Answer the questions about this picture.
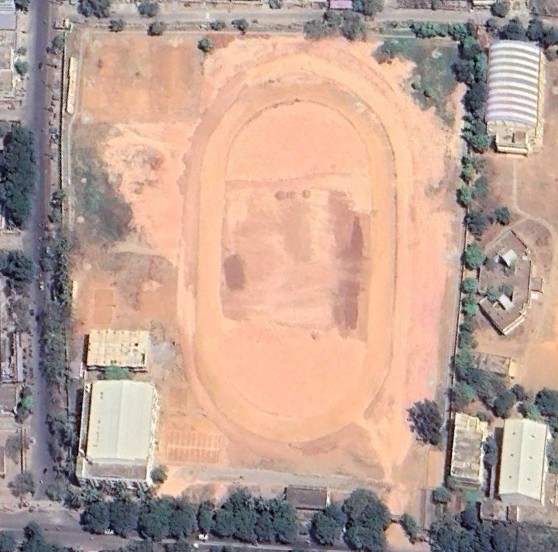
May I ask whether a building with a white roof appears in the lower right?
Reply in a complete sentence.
Yes, a building with a white roof shows up in the lower right.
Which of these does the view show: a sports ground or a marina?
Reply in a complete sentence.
The picture captures a sports ground.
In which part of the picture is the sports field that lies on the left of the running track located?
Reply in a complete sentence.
The sports field that lies on the left of the running track appears toward the top left of the photo.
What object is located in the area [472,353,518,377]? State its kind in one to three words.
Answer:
shed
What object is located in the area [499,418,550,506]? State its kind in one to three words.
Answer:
building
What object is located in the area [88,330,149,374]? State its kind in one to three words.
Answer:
building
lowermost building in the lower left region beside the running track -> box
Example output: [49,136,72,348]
[77,379,160,492]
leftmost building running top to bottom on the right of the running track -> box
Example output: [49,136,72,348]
[451,413,488,493]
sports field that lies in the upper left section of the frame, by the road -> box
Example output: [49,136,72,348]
[82,37,203,122]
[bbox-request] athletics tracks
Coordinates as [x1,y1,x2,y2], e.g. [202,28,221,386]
[198,75,396,440]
